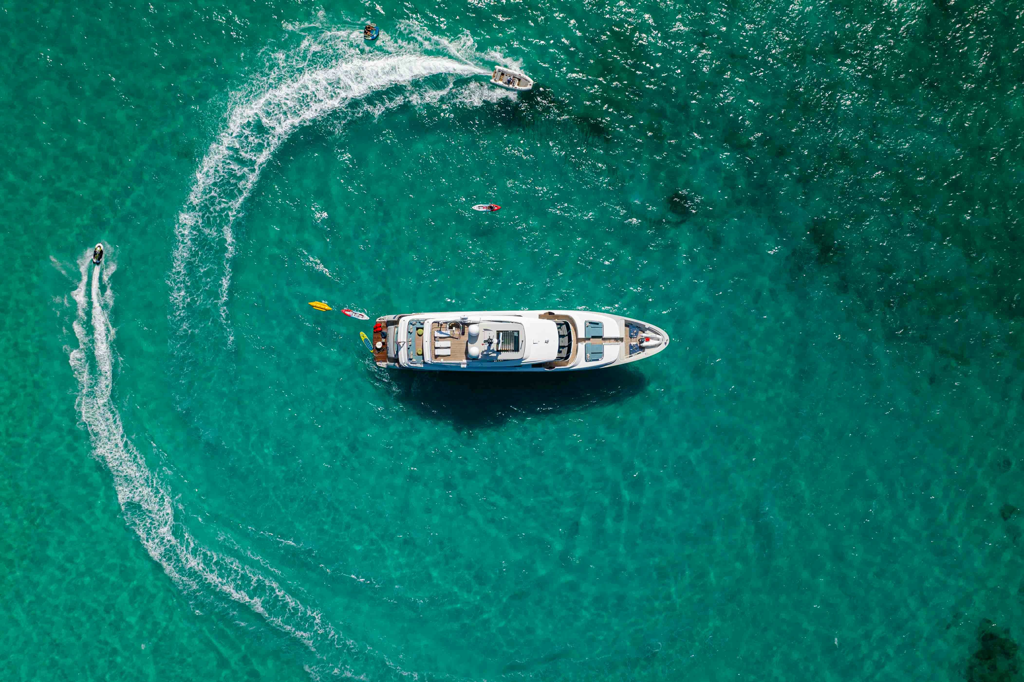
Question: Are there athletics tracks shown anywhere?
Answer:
No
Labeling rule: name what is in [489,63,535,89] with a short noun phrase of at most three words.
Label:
boat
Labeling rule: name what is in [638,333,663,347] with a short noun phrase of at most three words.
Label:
boat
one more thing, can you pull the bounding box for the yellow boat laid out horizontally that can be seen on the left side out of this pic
[306,300,332,312]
